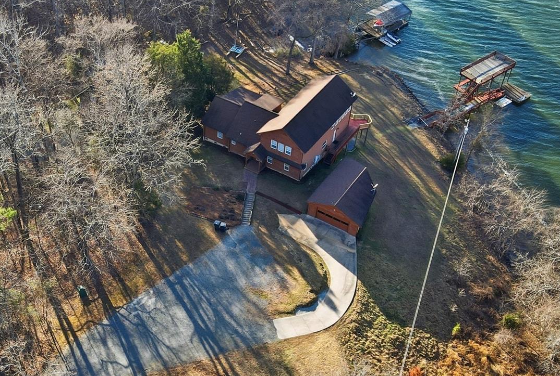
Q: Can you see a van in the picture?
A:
No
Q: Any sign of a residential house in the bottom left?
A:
No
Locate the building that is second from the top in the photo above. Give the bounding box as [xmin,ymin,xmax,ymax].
[200,74,372,180]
